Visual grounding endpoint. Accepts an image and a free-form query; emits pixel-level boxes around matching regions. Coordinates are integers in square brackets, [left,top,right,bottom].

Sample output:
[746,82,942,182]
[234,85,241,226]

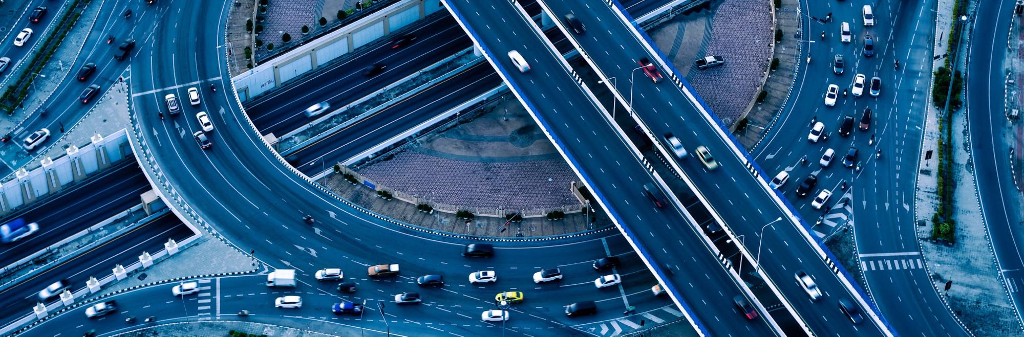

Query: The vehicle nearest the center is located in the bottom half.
[462,242,492,257]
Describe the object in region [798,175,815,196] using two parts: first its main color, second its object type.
black car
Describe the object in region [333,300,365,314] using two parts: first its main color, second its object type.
blue vehicle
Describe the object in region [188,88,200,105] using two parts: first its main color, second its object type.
white vehicle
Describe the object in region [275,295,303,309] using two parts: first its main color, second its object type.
white car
